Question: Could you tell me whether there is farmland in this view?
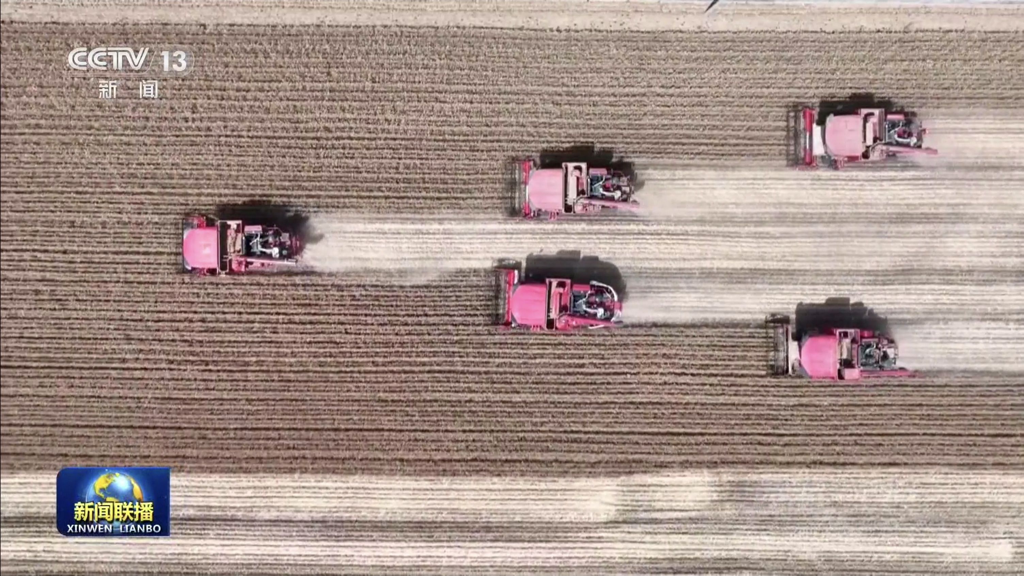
Yes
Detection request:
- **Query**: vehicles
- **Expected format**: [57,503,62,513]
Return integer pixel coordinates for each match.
[491,274,623,332]
[782,107,939,171]
[765,322,913,381]
[506,161,642,222]
[181,218,311,276]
